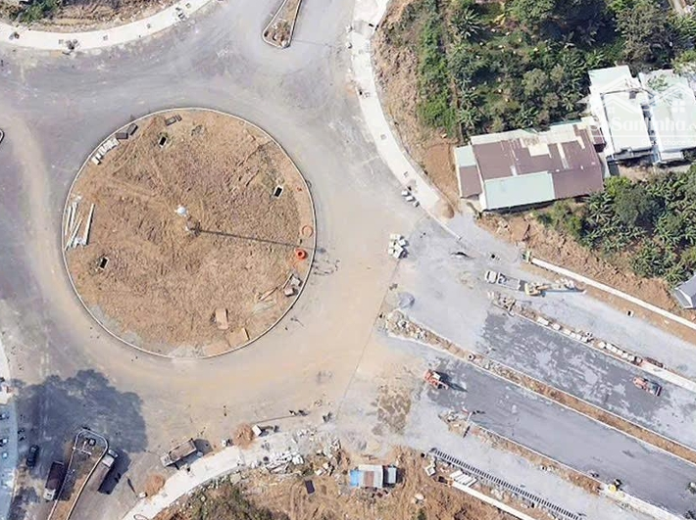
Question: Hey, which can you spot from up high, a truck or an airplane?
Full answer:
The image shows a truck.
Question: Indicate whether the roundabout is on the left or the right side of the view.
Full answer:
You can find the roundabout on the left side of the picture.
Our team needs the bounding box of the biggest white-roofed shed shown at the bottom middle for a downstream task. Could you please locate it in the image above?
[351,465,384,487]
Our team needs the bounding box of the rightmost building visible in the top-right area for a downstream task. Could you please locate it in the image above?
[635,66,696,160]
